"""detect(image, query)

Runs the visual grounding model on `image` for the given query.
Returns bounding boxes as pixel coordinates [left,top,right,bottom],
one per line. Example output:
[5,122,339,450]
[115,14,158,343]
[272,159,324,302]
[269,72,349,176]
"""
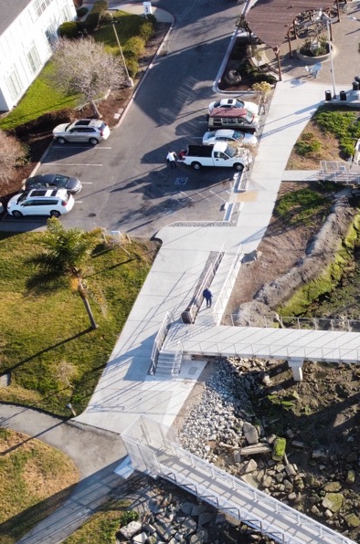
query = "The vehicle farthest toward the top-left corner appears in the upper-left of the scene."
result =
[47,115,108,143]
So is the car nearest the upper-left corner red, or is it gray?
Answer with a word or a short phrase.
gray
